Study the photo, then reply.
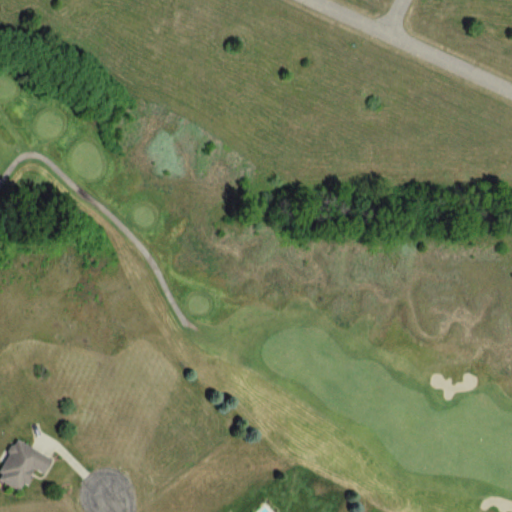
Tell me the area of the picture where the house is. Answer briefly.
bottom left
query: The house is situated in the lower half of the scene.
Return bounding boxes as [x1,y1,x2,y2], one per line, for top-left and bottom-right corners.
[0,440,52,492]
